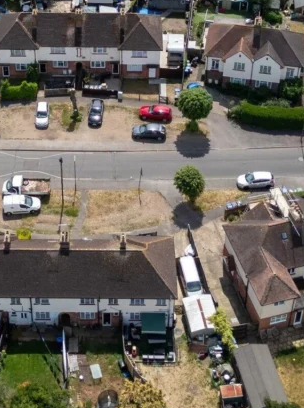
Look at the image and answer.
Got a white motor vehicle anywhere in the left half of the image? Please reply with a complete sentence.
Yes, in the left half of the image there is a white motor vehicle.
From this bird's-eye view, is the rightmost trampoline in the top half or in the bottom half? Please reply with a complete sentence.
Seen from above, the rightmost trampoline lies in the bottom half of the view.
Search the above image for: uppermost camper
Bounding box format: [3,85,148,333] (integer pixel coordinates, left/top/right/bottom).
[165,35,184,64]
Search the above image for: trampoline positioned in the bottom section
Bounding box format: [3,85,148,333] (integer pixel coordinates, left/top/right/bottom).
[92,376,121,408]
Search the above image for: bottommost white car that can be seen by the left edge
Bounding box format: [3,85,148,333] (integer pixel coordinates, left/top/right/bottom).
[2,195,43,218]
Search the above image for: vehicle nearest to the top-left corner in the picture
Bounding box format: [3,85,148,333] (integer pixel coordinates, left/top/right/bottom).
[33,103,50,128]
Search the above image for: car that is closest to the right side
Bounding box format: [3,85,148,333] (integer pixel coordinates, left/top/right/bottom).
[237,172,274,192]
